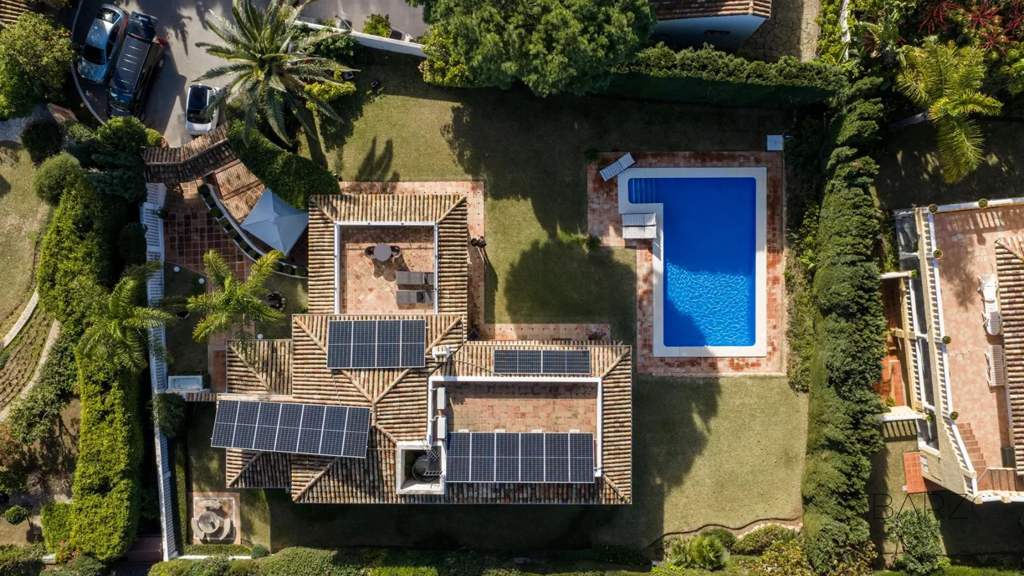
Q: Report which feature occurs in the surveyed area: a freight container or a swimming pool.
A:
swimming pool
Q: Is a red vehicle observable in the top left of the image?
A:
No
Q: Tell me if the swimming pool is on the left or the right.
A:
right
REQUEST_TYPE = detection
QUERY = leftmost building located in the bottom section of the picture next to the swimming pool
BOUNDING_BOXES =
[214,192,635,507]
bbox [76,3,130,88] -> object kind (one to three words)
car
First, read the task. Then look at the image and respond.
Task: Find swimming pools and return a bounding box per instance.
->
[619,167,767,357]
